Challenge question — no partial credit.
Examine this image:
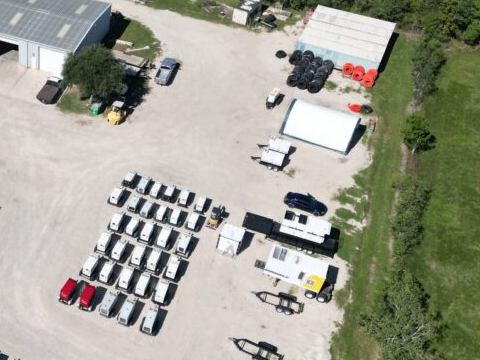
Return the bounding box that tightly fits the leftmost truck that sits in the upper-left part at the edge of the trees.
[34,76,68,105]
